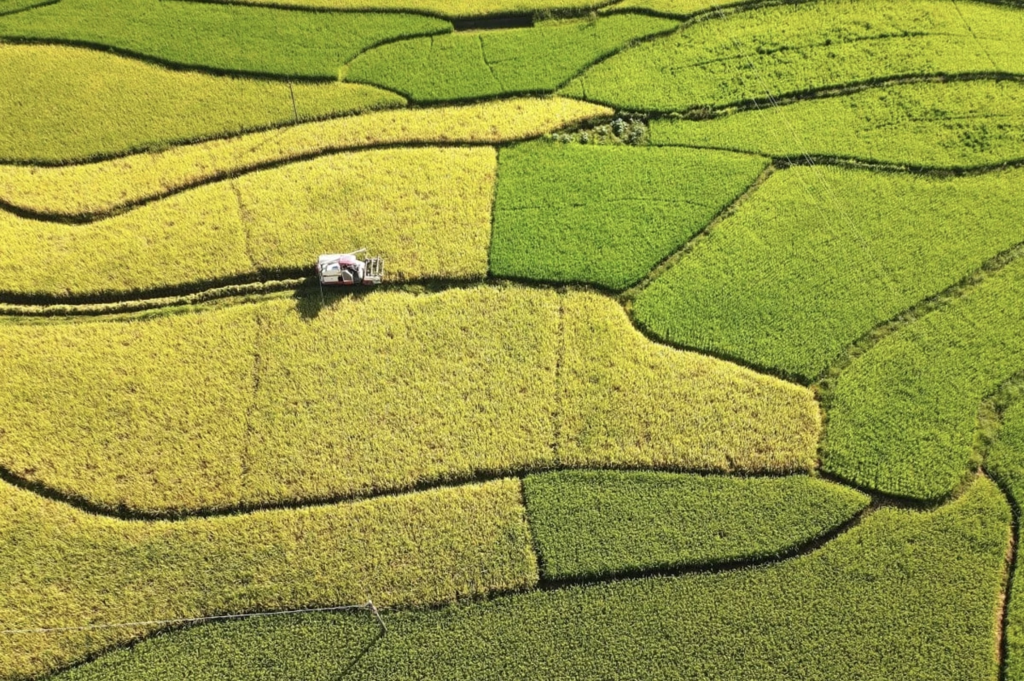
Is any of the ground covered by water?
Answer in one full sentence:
No, the picture contains no water.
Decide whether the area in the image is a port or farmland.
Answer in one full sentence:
This looks like farmland.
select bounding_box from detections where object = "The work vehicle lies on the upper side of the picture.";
[318,246,386,289]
